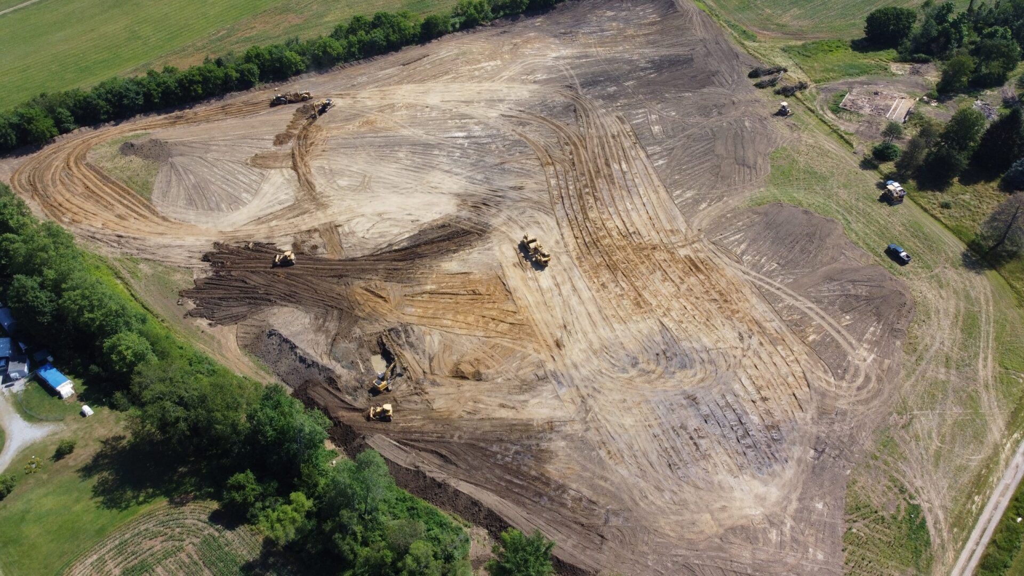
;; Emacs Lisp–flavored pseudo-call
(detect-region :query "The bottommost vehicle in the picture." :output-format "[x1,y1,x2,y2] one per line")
[367,405,392,425]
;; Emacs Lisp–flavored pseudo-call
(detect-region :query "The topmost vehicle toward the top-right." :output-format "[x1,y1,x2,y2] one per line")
[778,100,795,117]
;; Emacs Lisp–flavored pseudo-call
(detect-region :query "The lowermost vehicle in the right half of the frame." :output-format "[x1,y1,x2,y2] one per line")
[883,242,916,263]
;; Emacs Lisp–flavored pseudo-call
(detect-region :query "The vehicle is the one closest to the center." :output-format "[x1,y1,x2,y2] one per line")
[369,363,404,398]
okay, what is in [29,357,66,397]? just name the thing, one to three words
shed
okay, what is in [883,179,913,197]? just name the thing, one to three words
vehicle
